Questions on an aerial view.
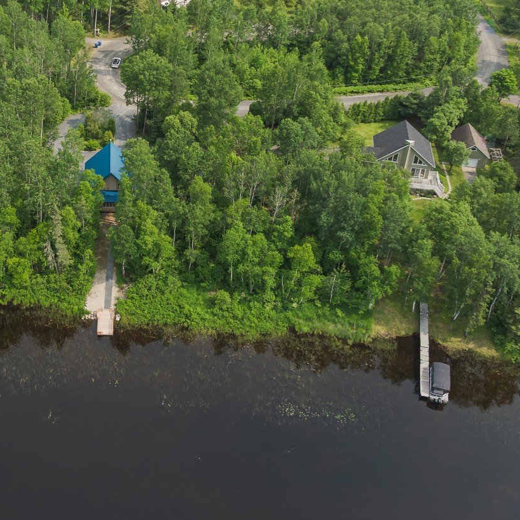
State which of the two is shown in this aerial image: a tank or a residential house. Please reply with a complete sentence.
The image shows a residential house.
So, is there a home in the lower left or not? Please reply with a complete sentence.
No, in the lower left there is no home.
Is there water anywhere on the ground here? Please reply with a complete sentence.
Yes, water shows up in the scene.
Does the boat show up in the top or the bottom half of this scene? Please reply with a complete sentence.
The boat is in the bottom half of the image.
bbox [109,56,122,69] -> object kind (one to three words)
vehicle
